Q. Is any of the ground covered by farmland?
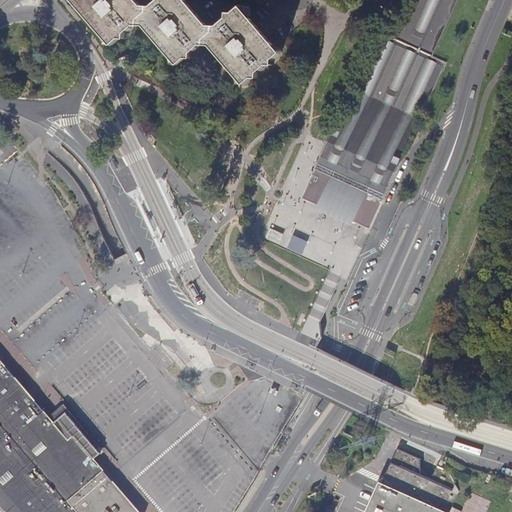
No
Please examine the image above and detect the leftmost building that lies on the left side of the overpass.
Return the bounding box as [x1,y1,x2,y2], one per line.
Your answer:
[0,358,140,512]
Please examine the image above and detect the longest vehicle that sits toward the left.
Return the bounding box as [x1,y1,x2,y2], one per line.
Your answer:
[188,283,202,304]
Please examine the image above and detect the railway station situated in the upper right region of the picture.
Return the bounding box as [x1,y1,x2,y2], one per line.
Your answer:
[303,0,457,232]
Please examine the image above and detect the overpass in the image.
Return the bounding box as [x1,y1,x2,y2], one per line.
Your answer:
[302,344,405,429]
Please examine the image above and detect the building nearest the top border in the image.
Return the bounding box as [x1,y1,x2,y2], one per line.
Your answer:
[66,0,277,85]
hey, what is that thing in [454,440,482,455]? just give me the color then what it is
white vehicle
